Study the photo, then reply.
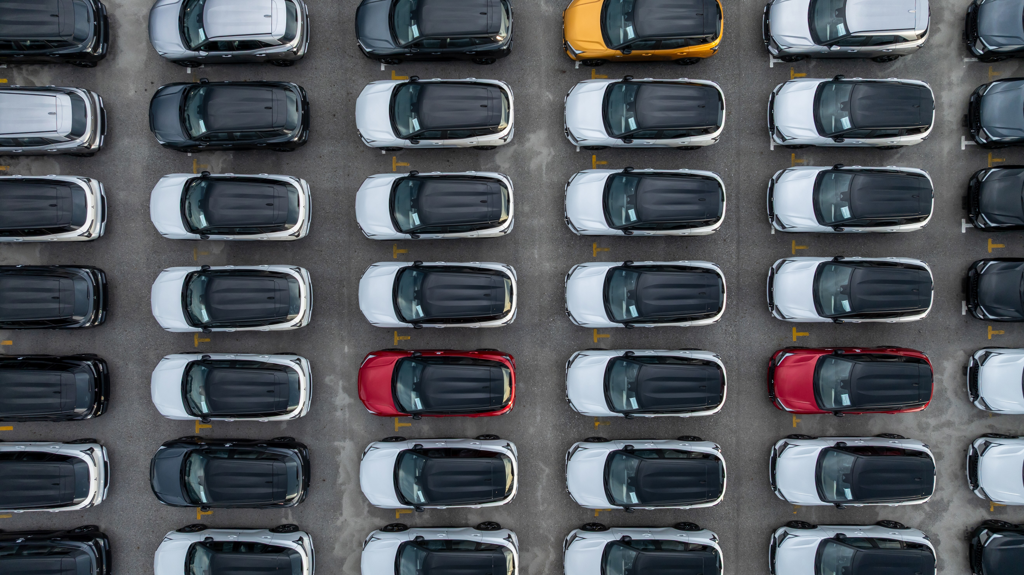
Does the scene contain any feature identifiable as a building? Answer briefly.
No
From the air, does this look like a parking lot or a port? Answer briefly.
parking lot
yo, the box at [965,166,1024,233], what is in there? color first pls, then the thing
black car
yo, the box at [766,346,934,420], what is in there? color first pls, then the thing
black car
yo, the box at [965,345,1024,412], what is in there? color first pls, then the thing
white car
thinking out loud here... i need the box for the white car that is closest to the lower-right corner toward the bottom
[966,432,1024,503]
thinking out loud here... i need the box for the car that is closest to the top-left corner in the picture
[0,0,109,67]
